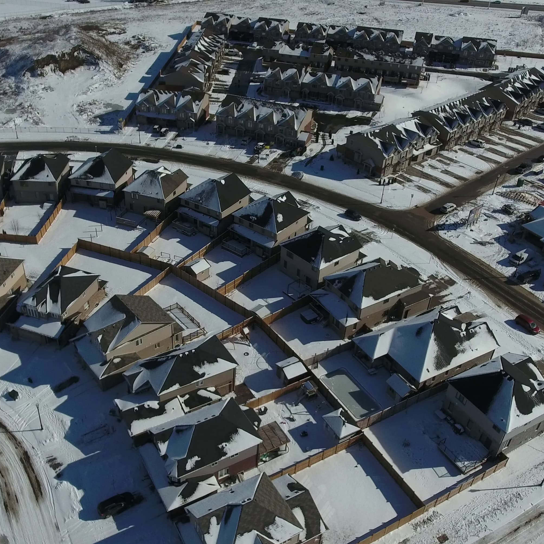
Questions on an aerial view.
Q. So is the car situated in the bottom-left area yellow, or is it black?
black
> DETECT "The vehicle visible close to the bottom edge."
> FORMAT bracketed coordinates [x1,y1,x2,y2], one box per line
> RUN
[96,492,135,518]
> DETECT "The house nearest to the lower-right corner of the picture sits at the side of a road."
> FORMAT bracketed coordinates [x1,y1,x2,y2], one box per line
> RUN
[442,350,544,457]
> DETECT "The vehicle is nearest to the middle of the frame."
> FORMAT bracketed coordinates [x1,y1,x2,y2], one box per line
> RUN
[344,209,362,221]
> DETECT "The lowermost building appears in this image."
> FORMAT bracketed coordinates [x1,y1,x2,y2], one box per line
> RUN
[185,462,329,544]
